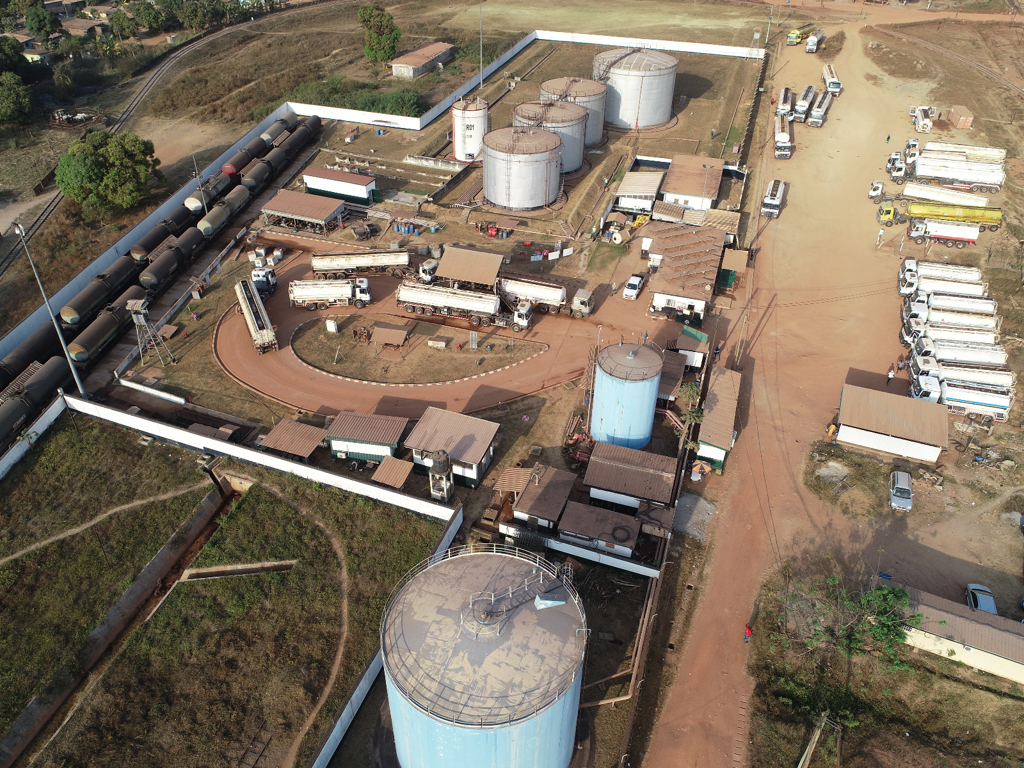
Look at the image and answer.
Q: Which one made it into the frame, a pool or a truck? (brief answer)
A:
truck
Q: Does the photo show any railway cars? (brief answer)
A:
Yes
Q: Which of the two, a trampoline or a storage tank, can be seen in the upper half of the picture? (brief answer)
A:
storage tank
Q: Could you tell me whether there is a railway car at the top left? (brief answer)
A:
Yes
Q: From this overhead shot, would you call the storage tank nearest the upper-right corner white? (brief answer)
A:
Yes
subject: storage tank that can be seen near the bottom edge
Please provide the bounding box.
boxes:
[372,540,588,768]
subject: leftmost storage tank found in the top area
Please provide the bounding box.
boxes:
[444,94,495,163]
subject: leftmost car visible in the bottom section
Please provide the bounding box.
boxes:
[886,469,916,518]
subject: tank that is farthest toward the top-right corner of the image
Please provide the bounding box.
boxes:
[601,50,687,138]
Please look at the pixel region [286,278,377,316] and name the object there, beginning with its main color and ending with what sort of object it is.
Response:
white truck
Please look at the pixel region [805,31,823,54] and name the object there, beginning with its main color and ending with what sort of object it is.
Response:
white vehicle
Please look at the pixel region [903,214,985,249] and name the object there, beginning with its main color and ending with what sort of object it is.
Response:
white truck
